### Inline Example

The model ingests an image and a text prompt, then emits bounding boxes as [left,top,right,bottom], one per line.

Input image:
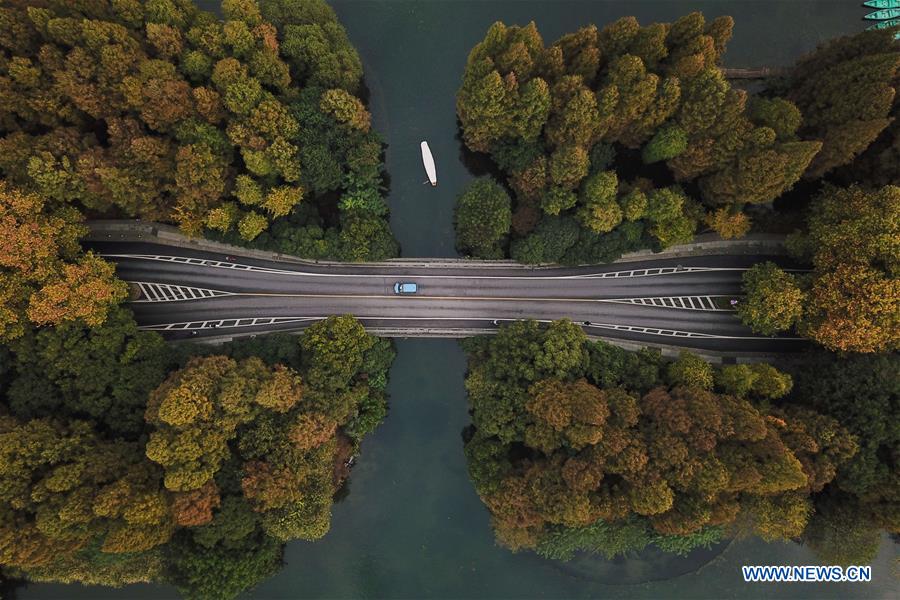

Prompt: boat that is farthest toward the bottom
[421,140,437,187]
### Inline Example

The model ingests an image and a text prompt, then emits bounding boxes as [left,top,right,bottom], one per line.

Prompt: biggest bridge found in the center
[383,257,520,337]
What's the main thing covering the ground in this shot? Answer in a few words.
trees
